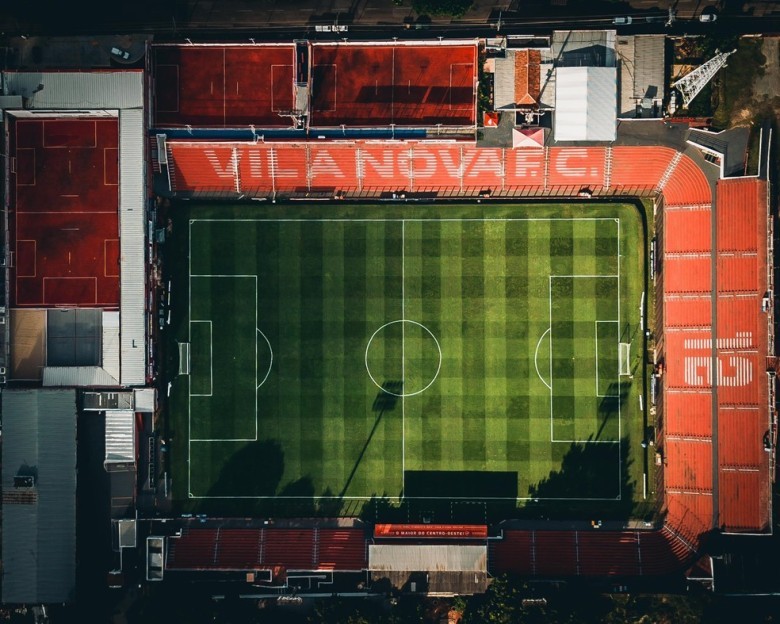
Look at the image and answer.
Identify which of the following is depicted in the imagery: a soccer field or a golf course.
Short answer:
soccer field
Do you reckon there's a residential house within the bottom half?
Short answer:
Yes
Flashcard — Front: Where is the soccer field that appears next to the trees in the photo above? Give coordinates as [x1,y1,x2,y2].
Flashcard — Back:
[181,209,629,517]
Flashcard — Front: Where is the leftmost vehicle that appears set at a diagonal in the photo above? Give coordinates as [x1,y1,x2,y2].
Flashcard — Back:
[110,44,130,60]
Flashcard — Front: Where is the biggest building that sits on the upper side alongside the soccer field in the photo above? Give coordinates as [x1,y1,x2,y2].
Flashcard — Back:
[5,71,152,385]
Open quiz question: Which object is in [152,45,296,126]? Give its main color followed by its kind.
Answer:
red sports court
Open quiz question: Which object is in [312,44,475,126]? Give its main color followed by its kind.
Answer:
red sports court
